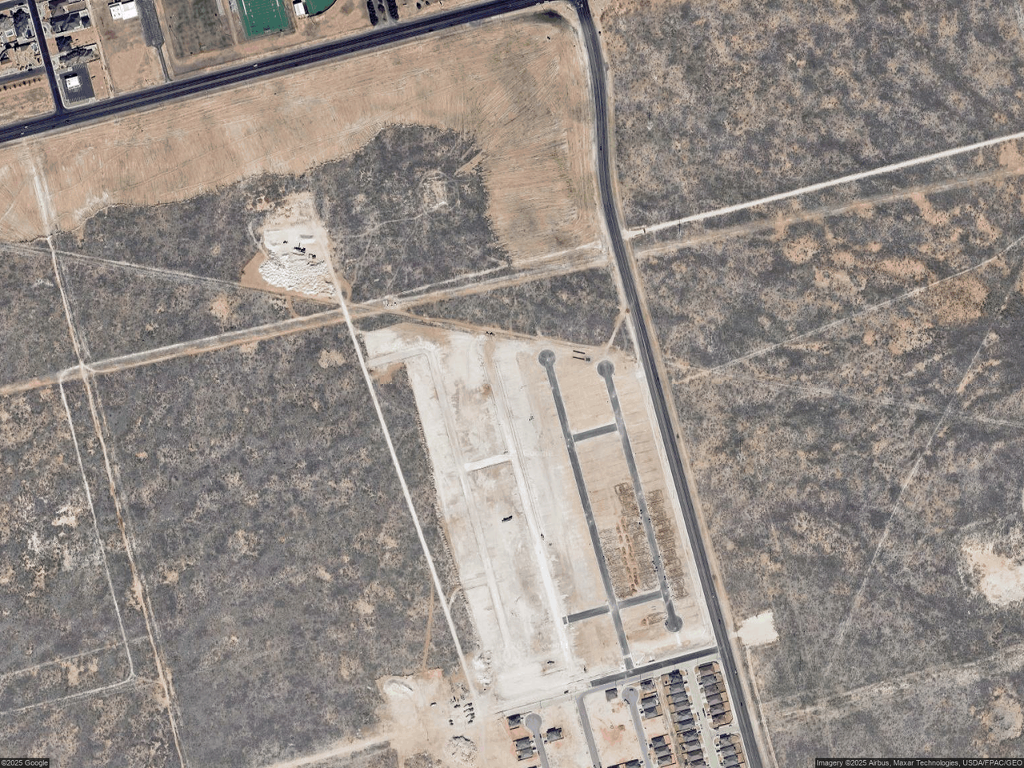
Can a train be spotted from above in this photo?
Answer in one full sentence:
No, the scene contains no train.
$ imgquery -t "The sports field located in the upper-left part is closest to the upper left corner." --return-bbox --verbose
[172,0,230,58]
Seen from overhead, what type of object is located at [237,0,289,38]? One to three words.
sports field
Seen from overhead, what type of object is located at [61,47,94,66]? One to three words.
house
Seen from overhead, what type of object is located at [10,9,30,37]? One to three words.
house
